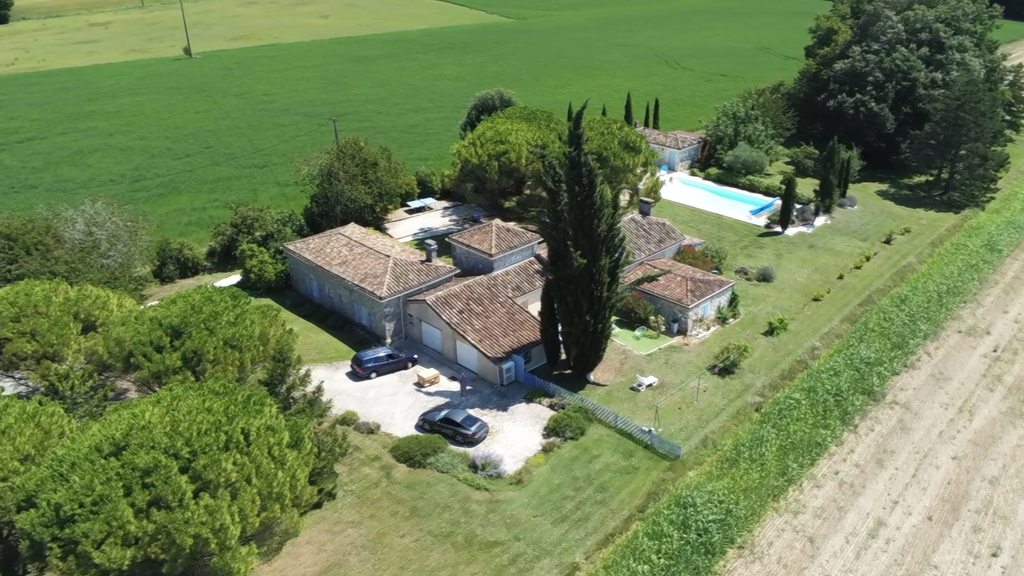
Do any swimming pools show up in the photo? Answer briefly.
Yes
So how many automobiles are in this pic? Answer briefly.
2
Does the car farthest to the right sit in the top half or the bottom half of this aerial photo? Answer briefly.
bottom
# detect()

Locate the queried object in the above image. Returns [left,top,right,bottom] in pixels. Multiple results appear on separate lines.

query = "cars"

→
[417,406,486,445]
[354,345,421,378]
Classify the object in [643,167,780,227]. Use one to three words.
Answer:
swimming pool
